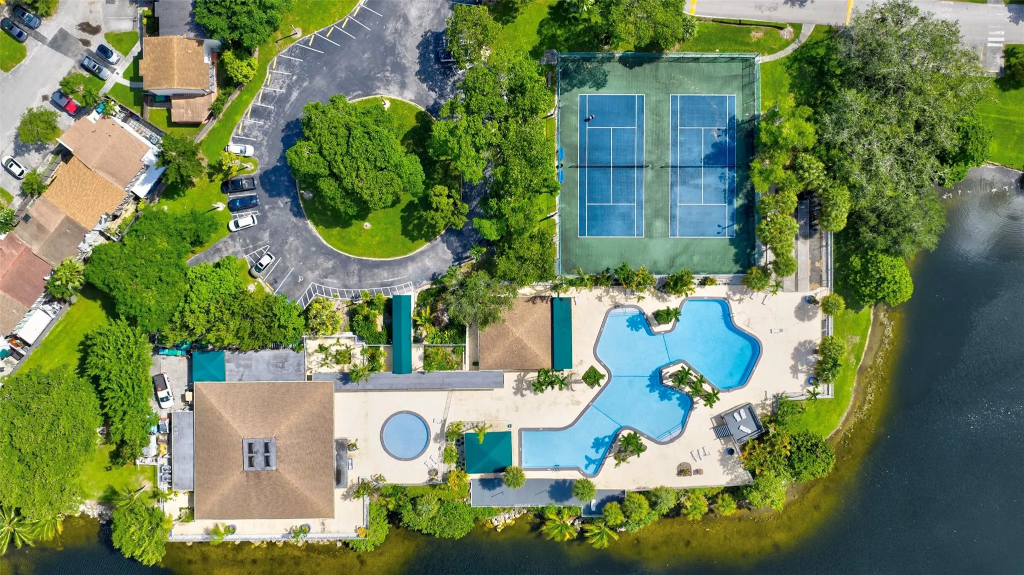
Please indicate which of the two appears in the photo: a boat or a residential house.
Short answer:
residential house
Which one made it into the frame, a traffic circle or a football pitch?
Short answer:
traffic circle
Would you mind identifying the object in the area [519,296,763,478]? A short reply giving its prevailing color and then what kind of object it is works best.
blue swimming pool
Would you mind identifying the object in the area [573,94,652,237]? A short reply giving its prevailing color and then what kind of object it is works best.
blue tennis court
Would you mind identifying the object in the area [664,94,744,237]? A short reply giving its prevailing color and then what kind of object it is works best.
blue tennis court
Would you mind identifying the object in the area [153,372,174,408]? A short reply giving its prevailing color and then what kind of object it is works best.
white truck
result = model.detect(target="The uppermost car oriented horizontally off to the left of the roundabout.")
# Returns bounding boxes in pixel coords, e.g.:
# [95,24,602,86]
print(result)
[226,143,255,157]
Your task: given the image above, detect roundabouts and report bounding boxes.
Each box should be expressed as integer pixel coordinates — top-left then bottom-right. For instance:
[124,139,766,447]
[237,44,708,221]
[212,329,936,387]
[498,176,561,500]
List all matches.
[295,95,462,259]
